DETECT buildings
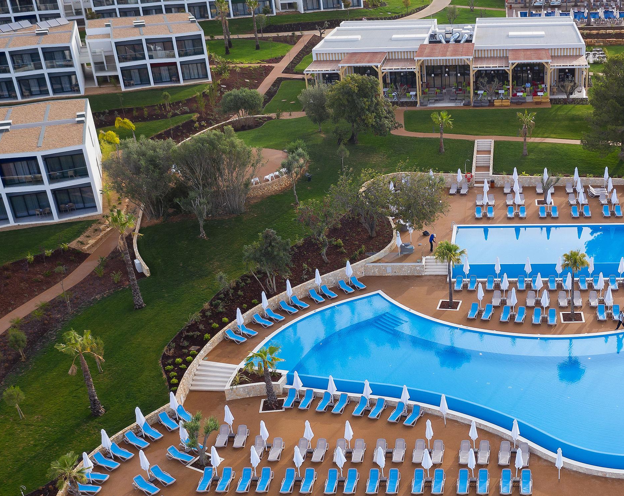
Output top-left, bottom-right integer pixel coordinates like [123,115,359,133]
[303,0,589,107]
[0,103,102,227]
[268,0,363,14]
[83,15,212,93]
[0,20,84,102]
